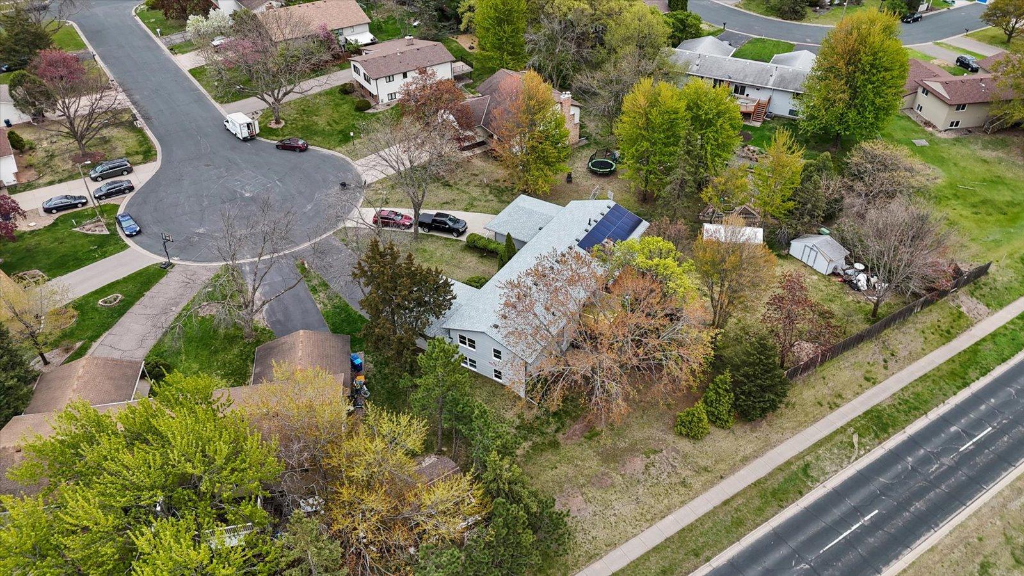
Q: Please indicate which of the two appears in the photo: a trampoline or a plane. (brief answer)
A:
trampoline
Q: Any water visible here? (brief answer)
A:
No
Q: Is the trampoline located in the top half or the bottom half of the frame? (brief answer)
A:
top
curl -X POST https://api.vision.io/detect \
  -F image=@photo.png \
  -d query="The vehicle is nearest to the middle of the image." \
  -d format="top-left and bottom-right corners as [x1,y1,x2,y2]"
[419,210,470,236]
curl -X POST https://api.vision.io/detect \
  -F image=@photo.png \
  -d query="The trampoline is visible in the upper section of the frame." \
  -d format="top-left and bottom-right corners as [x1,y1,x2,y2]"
[588,150,619,175]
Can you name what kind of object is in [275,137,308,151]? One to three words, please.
car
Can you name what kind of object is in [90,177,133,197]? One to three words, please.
car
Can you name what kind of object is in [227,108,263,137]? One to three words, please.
van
